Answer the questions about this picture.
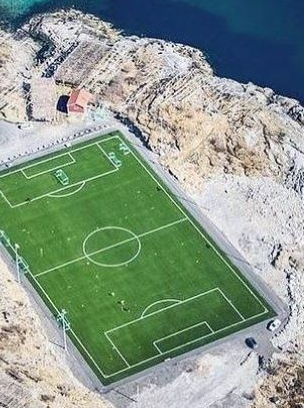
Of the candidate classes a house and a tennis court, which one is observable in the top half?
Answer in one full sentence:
The one visible in the top half is a house.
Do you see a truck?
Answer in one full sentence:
No, there isn't any truck down there.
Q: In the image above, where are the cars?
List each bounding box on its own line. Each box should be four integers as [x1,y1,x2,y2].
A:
[268,320,281,331]
[244,339,260,348]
